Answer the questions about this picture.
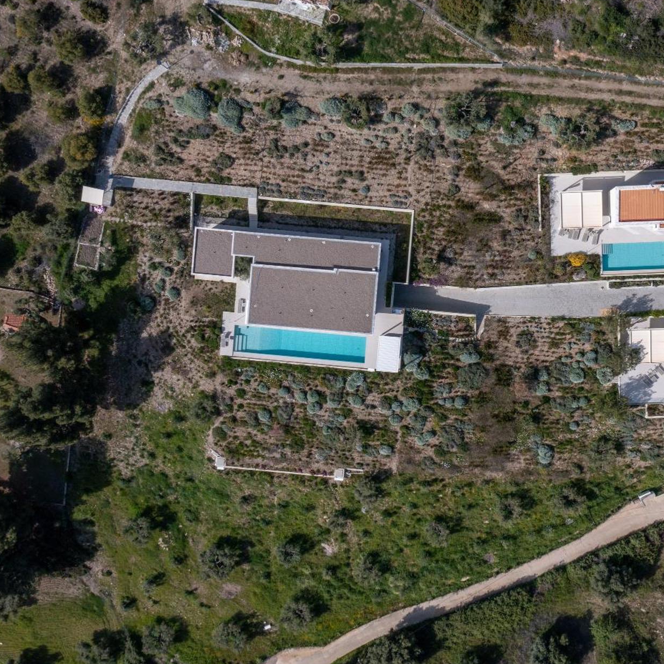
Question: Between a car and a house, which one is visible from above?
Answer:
house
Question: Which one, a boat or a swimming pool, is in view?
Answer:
swimming pool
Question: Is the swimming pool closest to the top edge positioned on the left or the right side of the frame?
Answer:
right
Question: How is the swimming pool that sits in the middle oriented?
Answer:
horizontally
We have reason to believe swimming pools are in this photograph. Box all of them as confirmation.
[602,242,664,273]
[234,325,366,363]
